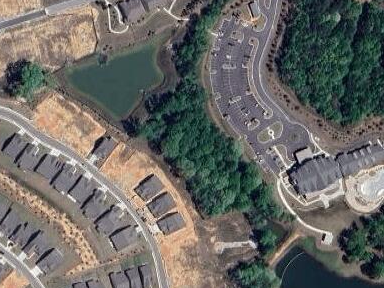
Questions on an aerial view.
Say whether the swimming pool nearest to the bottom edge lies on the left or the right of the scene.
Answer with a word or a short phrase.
right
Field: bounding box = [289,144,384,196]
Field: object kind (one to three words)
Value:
building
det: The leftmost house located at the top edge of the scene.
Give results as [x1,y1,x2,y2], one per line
[121,0,147,24]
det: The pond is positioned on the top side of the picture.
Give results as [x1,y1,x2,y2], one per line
[66,38,162,118]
